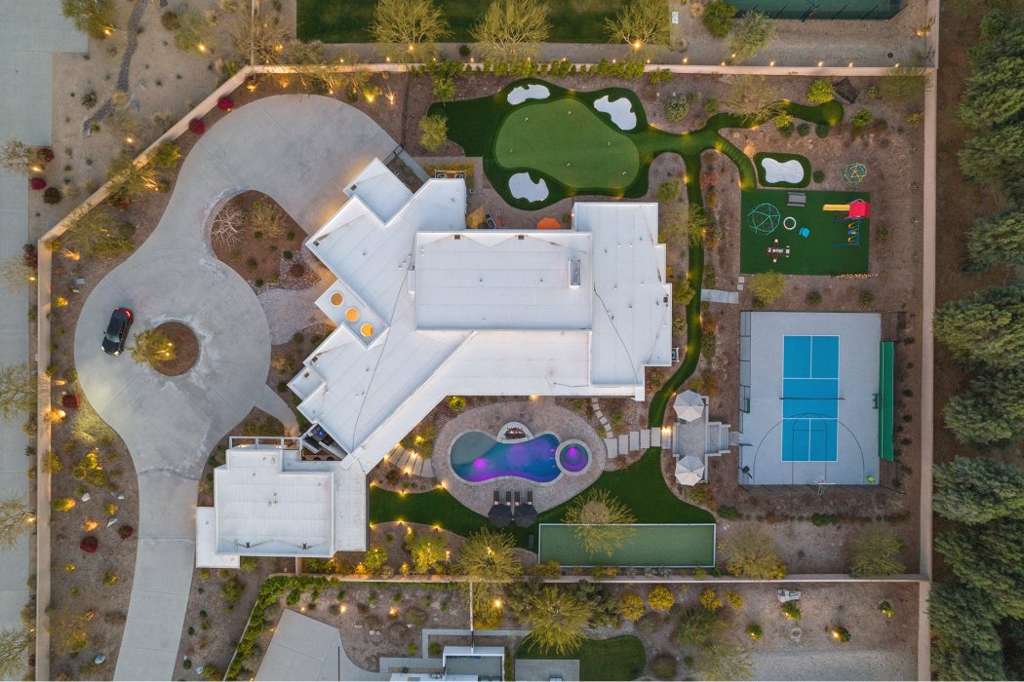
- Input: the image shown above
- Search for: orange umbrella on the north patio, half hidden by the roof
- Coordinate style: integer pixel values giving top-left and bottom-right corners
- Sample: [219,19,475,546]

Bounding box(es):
[537,214,561,233]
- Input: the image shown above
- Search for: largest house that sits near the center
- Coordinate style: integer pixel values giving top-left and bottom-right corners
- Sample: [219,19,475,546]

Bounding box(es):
[252,157,671,474]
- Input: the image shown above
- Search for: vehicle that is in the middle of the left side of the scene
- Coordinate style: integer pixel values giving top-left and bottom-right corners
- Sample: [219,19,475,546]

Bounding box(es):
[102,308,133,355]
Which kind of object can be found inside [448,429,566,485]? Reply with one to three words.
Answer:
swimming pool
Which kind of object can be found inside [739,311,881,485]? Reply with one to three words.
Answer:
sports court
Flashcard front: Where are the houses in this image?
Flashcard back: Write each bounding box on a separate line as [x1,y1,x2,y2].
[252,157,671,474]
[391,646,504,682]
